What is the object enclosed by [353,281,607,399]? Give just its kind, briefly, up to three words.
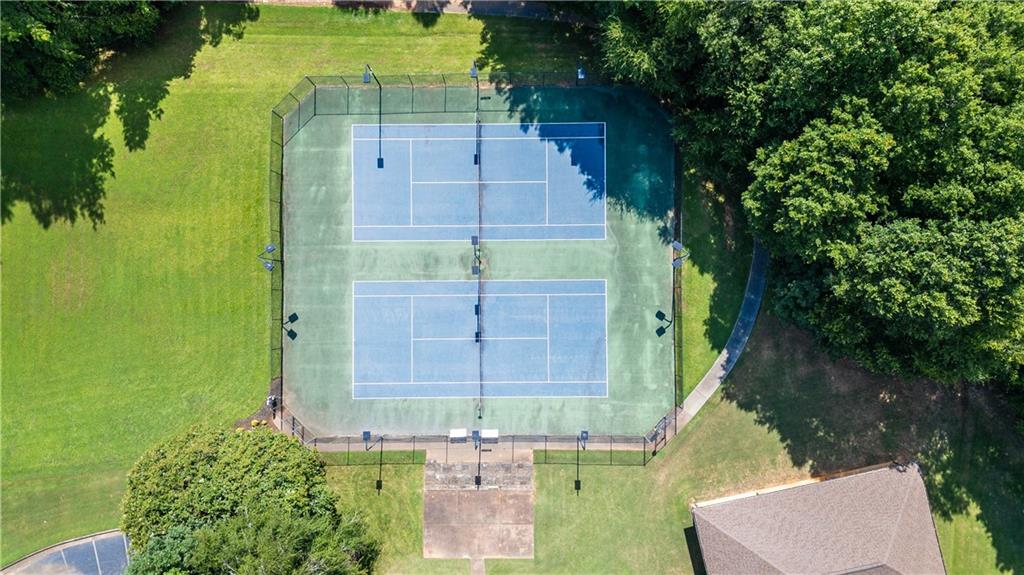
tennis court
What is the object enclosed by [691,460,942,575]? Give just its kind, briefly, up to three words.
building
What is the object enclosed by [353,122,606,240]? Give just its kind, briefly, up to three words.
tennis court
